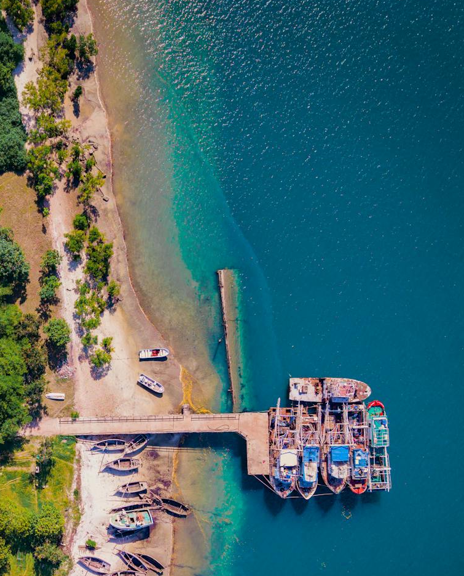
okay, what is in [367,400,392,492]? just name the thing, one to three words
boat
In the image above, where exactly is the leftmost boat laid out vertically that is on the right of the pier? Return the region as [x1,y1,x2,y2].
[269,399,303,498]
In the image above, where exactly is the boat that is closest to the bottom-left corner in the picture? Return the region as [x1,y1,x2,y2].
[73,555,111,575]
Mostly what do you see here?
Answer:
water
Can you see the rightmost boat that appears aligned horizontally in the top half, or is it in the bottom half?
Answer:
bottom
